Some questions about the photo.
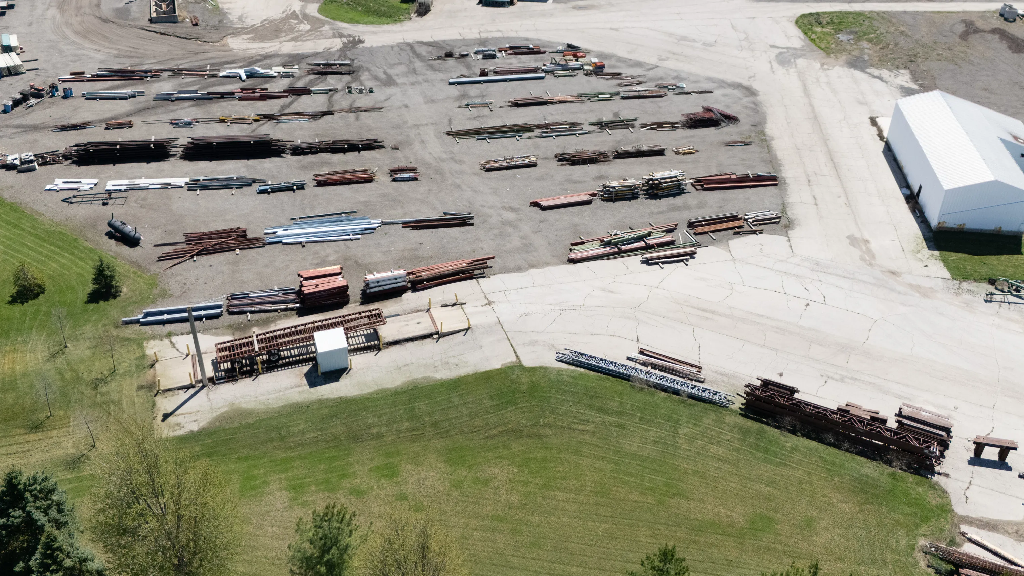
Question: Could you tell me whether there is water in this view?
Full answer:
No, the picture contains no water.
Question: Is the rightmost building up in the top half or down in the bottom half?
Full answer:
The rightmost building sits in the top half of the picture.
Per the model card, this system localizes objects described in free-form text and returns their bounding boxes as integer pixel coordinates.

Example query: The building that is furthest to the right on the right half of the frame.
[886,88,1024,234]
